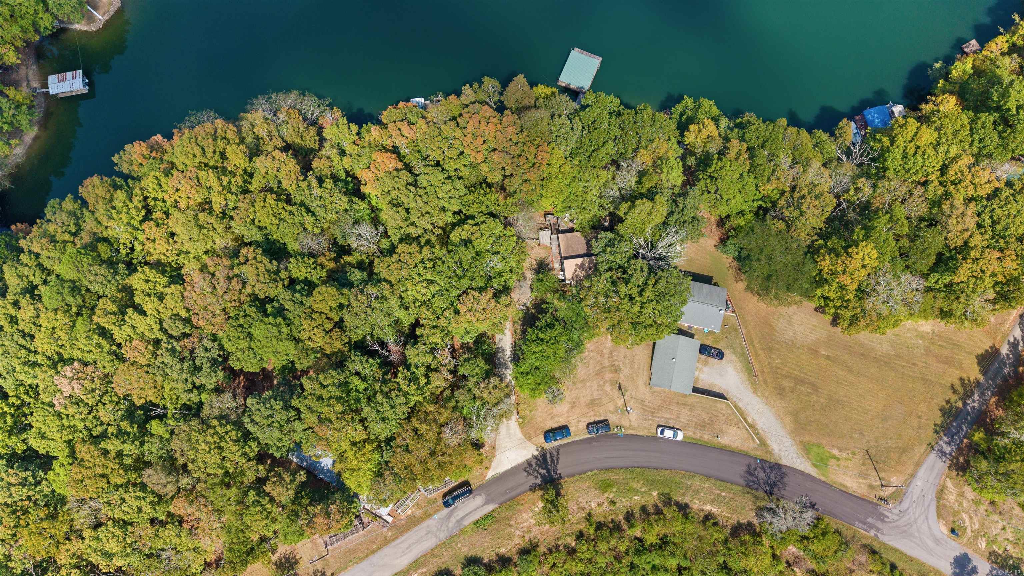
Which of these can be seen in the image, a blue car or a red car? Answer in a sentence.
It is a blue car that can be seen here.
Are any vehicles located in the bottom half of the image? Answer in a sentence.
Yes, the scene does show a vehicle in the bottom half of the image.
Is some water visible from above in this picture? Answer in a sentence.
Yes, water can be seen from above here.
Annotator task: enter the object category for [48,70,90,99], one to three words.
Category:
pier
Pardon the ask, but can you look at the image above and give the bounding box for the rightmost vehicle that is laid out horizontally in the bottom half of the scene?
[698,345,725,359]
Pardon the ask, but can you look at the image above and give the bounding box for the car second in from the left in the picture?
[545,428,572,444]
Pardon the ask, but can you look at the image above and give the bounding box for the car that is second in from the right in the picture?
[655,426,683,440]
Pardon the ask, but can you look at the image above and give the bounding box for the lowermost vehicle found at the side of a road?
[442,487,473,510]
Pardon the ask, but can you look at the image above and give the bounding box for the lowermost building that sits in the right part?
[650,334,700,393]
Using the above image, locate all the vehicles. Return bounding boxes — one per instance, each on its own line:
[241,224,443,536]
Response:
[698,345,725,359]
[442,487,473,510]
[655,426,683,440]
[545,428,572,444]
[588,423,612,436]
